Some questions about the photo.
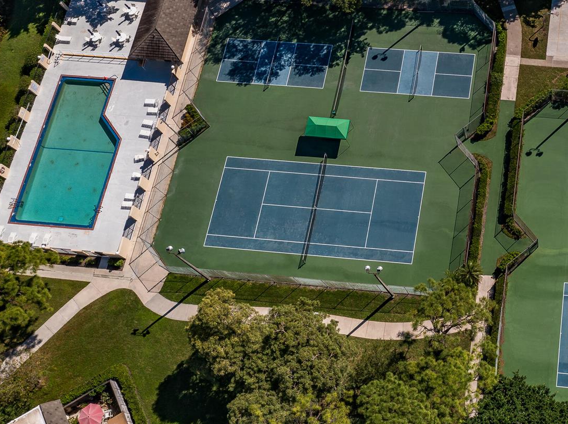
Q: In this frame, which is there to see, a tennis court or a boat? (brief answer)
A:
tennis court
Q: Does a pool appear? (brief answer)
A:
Yes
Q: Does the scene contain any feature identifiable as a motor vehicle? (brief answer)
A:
No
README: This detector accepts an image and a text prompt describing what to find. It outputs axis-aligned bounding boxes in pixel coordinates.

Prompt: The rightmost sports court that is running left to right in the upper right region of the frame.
[360,47,475,99]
